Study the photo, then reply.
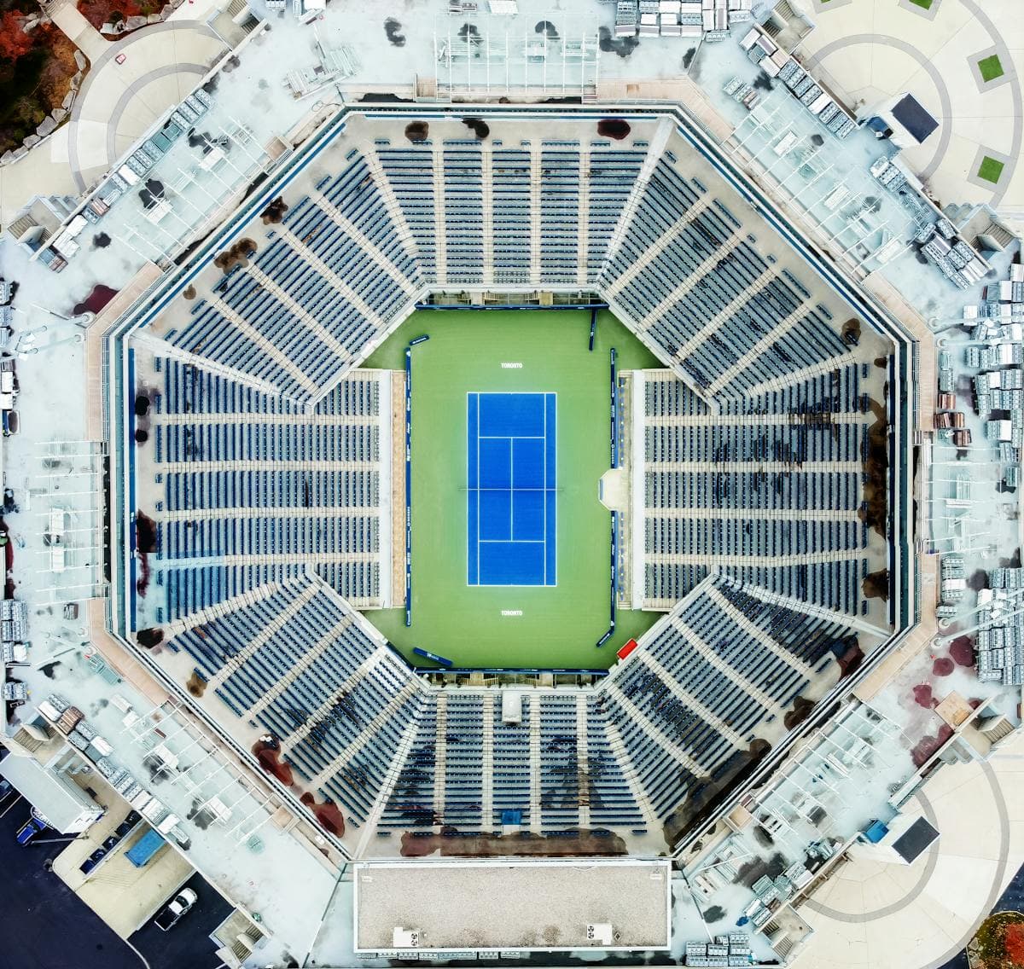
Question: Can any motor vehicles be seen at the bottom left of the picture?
Yes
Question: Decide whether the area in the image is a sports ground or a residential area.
sports ground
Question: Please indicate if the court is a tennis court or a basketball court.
tennis court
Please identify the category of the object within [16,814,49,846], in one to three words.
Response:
truck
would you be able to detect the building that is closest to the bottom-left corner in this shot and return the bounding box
[0,743,115,835]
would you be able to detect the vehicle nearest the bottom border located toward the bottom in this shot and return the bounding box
[153,887,202,932]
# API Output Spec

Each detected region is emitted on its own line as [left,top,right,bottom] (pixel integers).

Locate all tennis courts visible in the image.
[358,292,666,686]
